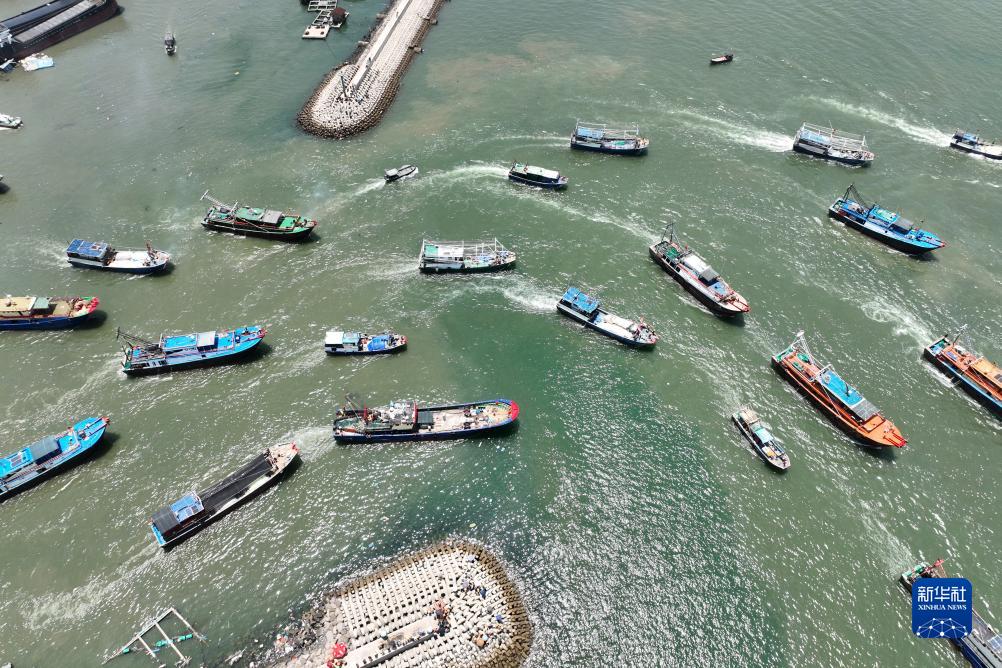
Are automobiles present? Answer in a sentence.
No, I can see no automobile in this picture.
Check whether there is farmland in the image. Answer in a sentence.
No, farmland can't be seen anywhere here.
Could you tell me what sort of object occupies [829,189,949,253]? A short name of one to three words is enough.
boat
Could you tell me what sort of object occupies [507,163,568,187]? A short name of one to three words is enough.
boat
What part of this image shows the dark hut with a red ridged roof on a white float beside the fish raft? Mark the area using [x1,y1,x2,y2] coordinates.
[330,9,350,26]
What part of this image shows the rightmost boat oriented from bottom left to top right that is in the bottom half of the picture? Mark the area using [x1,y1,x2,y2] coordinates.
[152,447,301,549]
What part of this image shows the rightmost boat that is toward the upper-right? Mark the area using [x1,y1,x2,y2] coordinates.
[949,133,1002,162]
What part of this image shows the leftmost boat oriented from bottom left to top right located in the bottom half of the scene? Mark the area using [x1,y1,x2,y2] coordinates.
[0,417,114,509]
